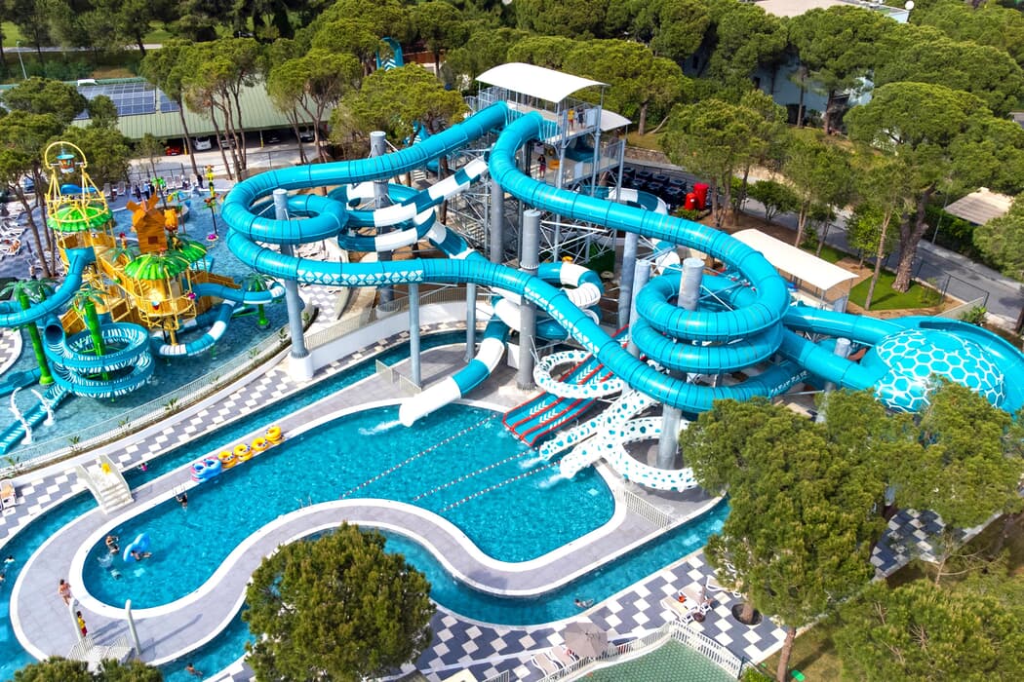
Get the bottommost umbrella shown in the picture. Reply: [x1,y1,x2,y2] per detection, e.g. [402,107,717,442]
[566,619,610,671]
